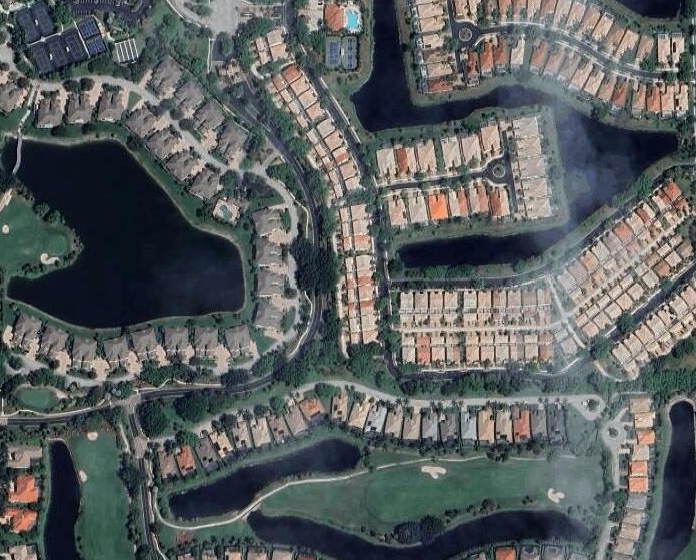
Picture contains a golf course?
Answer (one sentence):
Yes, I can see a golf course in this picture.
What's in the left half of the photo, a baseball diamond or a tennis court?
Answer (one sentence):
It is a tennis court that can be seen in the left half of the photo.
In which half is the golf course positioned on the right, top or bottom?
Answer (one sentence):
The golf course positioned on the right sits in the bottom half of the picture.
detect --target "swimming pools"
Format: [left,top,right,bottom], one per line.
[213,200,239,225]
[344,4,361,34]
